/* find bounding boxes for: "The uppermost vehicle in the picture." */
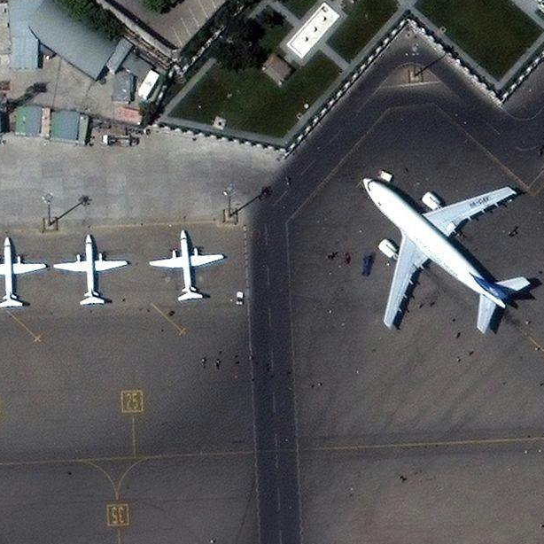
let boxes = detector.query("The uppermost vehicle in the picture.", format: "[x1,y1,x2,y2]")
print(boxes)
[137,72,159,100]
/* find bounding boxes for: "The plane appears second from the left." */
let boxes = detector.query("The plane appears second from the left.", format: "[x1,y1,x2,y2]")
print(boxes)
[54,234,128,306]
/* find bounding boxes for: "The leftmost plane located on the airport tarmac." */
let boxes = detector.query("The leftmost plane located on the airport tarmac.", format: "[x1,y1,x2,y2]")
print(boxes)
[0,237,45,309]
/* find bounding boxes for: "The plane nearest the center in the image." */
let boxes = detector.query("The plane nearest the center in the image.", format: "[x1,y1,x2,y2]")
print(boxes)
[150,230,223,301]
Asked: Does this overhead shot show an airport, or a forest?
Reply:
airport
